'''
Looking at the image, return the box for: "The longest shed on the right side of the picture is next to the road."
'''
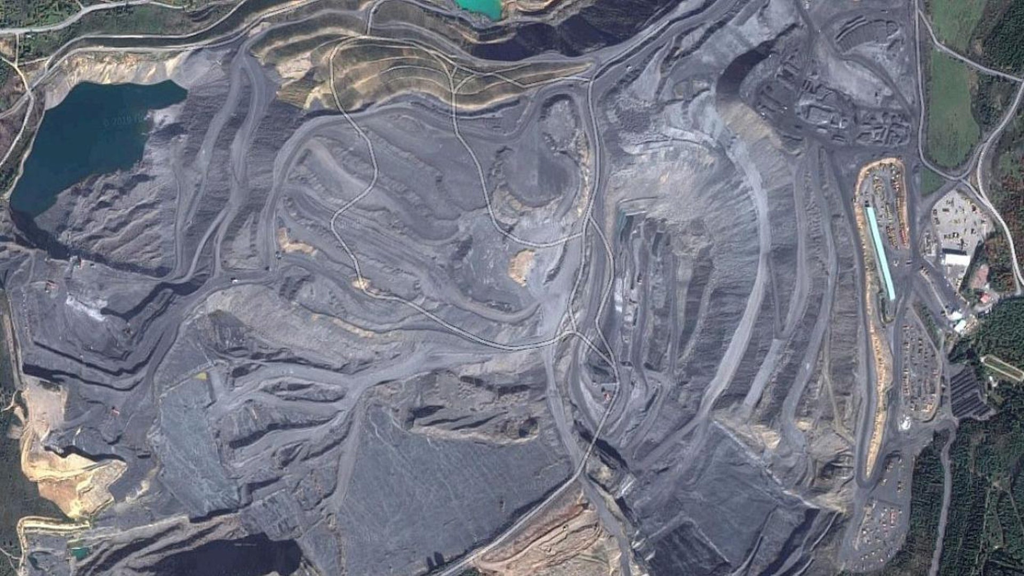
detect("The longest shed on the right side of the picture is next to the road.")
[867,207,896,300]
